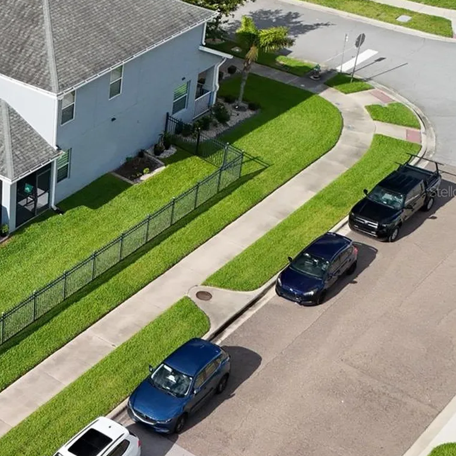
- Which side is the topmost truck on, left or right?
right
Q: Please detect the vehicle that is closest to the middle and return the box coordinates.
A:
[276,227,365,304]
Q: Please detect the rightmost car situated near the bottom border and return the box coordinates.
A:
[129,336,241,434]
